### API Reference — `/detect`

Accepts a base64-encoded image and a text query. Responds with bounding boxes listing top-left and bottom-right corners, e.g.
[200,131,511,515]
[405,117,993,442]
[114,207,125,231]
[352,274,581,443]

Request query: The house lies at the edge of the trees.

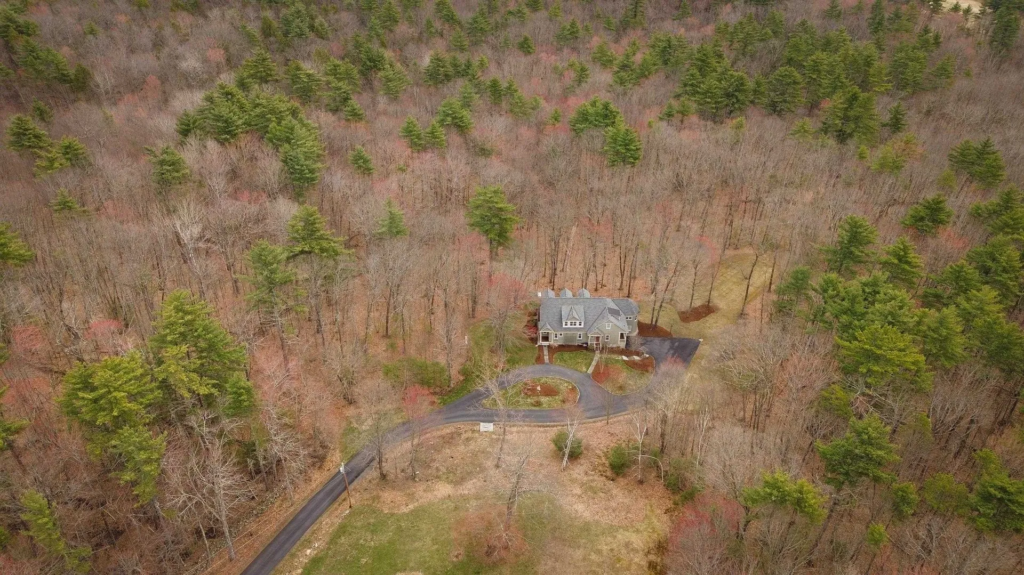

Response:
[536,287,642,354]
